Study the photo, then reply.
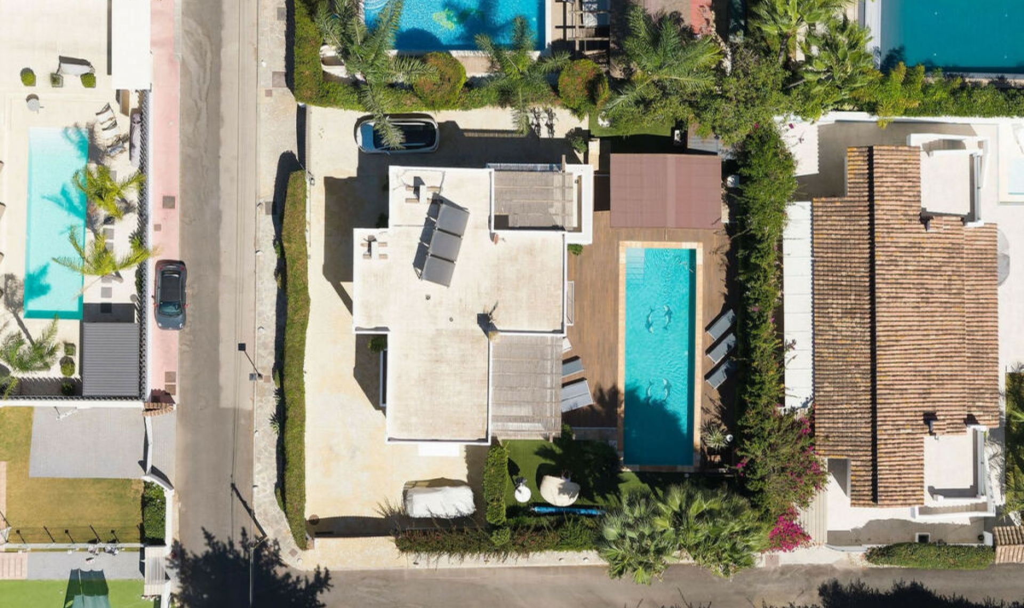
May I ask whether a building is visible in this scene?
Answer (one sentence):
Yes, there's a building here.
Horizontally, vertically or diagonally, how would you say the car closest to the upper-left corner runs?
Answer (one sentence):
From this overhead view, the car closest to the upper-left corner appears to run vertically.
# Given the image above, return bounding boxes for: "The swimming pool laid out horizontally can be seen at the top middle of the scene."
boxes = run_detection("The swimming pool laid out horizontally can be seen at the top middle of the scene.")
[360,0,549,54]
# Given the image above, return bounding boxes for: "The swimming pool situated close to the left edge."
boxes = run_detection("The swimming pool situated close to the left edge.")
[21,127,89,321]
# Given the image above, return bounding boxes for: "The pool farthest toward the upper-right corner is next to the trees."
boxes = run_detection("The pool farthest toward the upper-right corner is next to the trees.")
[875,0,1024,76]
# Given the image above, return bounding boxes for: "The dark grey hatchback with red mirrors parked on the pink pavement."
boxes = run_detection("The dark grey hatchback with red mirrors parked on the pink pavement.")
[150,261,186,330]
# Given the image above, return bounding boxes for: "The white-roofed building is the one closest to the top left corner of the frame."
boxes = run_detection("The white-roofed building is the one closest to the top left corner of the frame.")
[111,0,158,91]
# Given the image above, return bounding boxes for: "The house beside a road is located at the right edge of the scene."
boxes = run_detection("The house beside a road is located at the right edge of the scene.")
[809,133,1000,522]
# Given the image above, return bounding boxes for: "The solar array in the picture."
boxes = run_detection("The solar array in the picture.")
[420,204,470,287]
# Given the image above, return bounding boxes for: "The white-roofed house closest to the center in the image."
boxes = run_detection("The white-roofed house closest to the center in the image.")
[353,164,593,457]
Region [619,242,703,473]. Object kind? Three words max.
swimming pool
